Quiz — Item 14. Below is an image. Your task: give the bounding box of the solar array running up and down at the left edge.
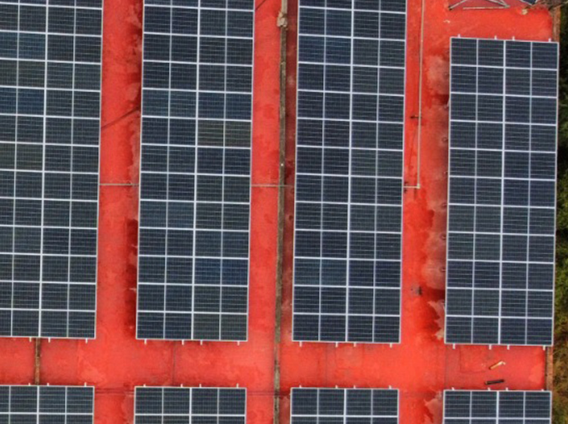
[0,0,103,343]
